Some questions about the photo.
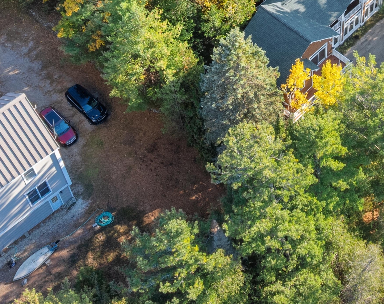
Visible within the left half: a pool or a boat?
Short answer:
boat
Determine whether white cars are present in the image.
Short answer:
No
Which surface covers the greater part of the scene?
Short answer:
trees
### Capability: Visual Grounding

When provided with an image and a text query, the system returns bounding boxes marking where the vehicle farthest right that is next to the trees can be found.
[63,81,109,132]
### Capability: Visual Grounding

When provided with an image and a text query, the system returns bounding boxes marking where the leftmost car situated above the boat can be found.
[37,102,80,153]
